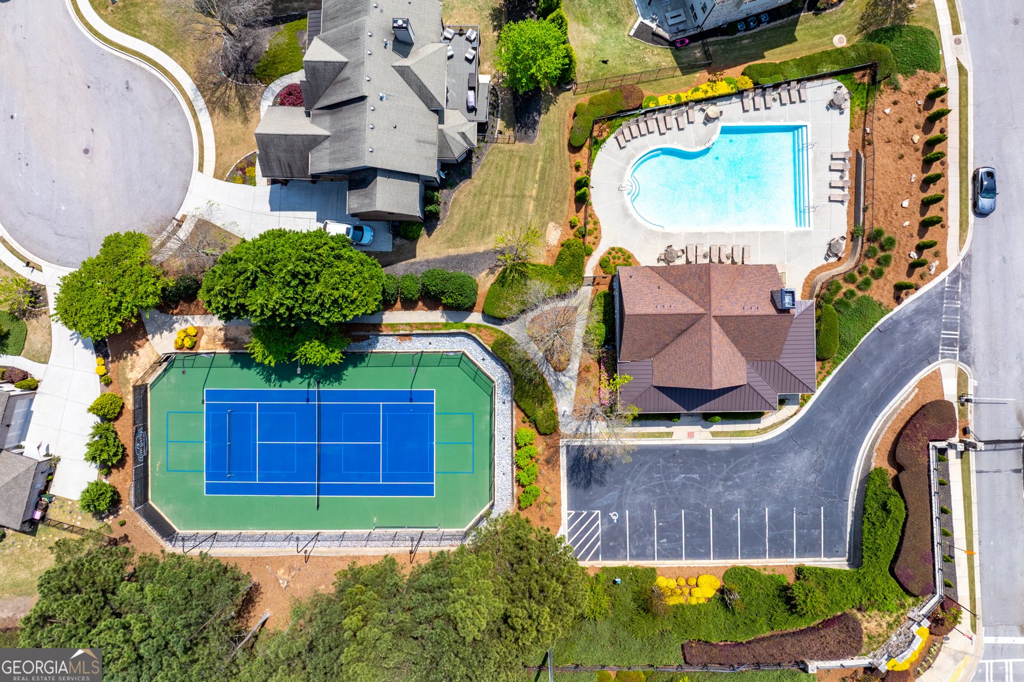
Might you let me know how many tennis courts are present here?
one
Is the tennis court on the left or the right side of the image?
left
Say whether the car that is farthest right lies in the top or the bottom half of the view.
top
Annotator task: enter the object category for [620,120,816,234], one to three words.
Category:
swimming pool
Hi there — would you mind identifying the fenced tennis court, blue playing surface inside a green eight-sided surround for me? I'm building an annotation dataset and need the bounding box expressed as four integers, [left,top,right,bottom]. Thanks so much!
[149,352,495,534]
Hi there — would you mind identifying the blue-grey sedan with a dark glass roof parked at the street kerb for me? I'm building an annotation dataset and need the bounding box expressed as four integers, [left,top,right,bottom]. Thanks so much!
[971,167,998,215]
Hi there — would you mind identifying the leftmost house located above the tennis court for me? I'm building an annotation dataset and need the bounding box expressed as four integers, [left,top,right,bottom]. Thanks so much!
[256,0,478,221]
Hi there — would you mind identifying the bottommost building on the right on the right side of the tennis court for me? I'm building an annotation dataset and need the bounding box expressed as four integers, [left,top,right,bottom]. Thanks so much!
[617,263,821,413]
